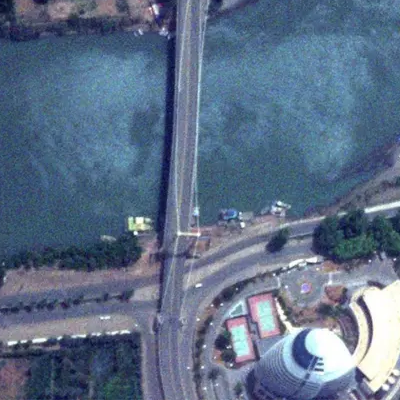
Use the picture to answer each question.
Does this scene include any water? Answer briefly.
Yes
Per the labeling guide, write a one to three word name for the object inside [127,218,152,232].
ship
